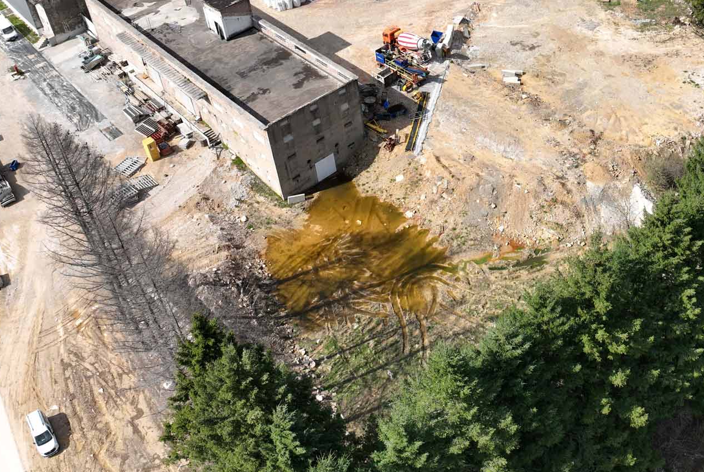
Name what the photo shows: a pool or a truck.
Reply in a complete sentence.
Of the two, only a truck appears.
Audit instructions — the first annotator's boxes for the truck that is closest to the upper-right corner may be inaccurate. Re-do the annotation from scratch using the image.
[381,25,444,63]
